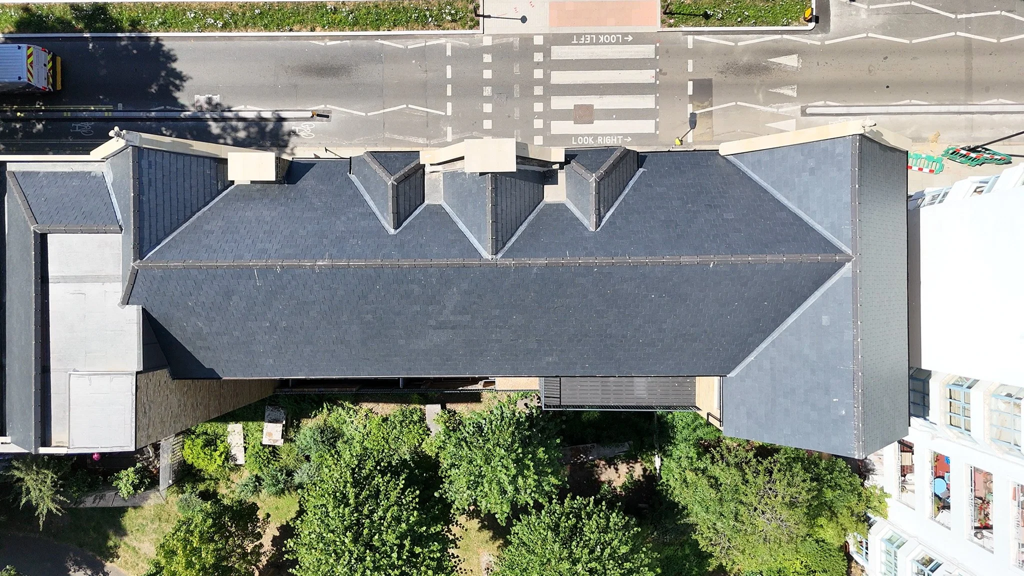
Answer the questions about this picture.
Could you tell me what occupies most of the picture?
buildings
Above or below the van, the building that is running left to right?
below it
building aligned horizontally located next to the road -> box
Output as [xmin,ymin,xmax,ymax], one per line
[0,118,918,458]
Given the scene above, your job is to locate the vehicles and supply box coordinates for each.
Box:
[0,44,61,99]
